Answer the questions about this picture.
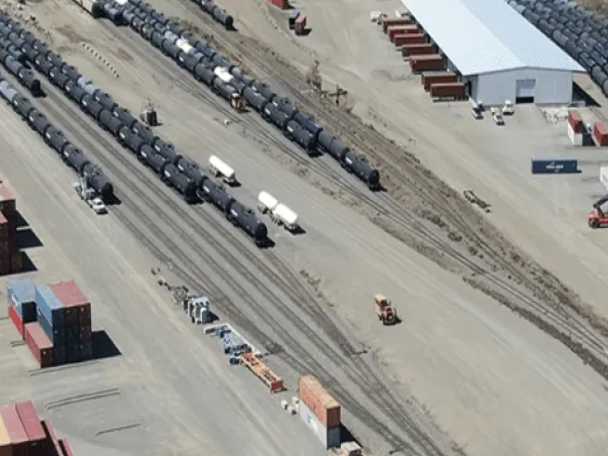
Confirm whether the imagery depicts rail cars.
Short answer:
Yes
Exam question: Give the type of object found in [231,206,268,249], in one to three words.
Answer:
rail car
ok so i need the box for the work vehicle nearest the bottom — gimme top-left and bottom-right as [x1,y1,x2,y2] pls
[373,292,404,325]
